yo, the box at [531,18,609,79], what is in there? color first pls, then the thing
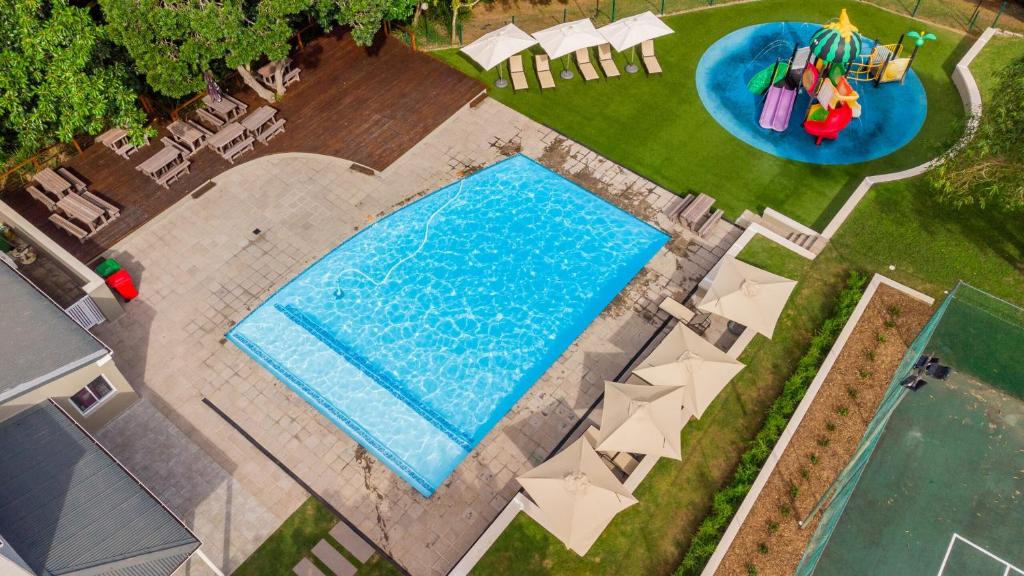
white umbrella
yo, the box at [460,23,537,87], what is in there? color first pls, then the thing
white umbrella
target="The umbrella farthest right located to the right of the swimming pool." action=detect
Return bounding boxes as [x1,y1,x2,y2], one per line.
[698,257,797,345]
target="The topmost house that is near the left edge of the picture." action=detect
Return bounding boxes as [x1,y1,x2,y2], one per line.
[0,257,140,440]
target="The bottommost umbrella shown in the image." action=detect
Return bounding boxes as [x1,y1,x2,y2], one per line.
[516,437,639,557]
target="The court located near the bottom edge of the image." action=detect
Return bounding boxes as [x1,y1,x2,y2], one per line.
[796,358,1024,576]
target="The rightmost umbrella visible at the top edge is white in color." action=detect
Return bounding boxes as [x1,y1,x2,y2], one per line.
[597,11,674,72]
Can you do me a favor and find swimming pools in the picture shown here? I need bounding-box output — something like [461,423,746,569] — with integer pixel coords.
[226,153,668,496]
